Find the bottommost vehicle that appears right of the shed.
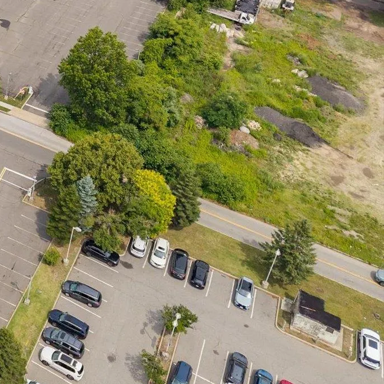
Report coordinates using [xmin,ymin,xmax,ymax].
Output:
[356,331,384,371]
